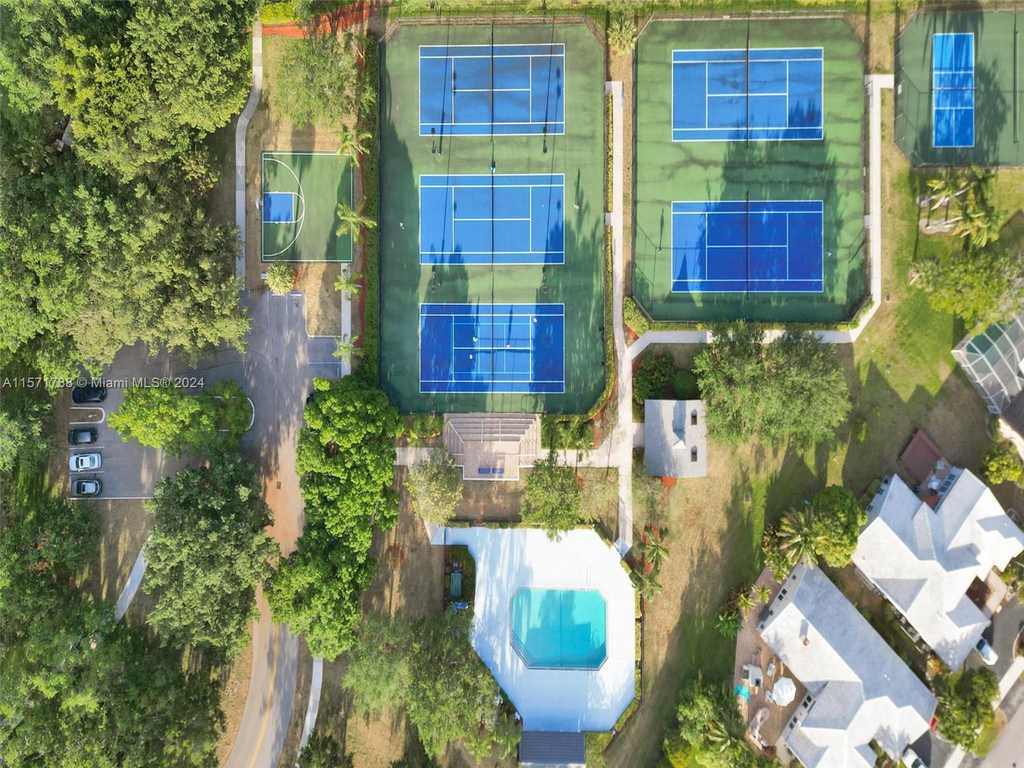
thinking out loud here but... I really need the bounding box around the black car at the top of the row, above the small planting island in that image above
[72,387,107,404]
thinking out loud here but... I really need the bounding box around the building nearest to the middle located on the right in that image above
[645,400,706,477]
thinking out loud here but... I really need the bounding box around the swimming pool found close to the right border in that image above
[965,313,1018,357]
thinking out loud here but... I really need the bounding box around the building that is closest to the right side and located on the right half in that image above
[992,387,1024,456]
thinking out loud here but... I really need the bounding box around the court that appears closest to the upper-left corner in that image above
[261,151,353,262]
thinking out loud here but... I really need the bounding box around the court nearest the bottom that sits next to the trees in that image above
[379,284,605,413]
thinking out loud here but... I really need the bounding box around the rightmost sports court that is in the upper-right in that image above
[895,11,1024,166]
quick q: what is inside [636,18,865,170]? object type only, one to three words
tennis court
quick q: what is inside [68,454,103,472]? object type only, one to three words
car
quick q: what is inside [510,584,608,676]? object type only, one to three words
swimming pool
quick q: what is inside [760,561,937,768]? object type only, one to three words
house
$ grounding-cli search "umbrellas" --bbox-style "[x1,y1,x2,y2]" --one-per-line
[772,679,795,702]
